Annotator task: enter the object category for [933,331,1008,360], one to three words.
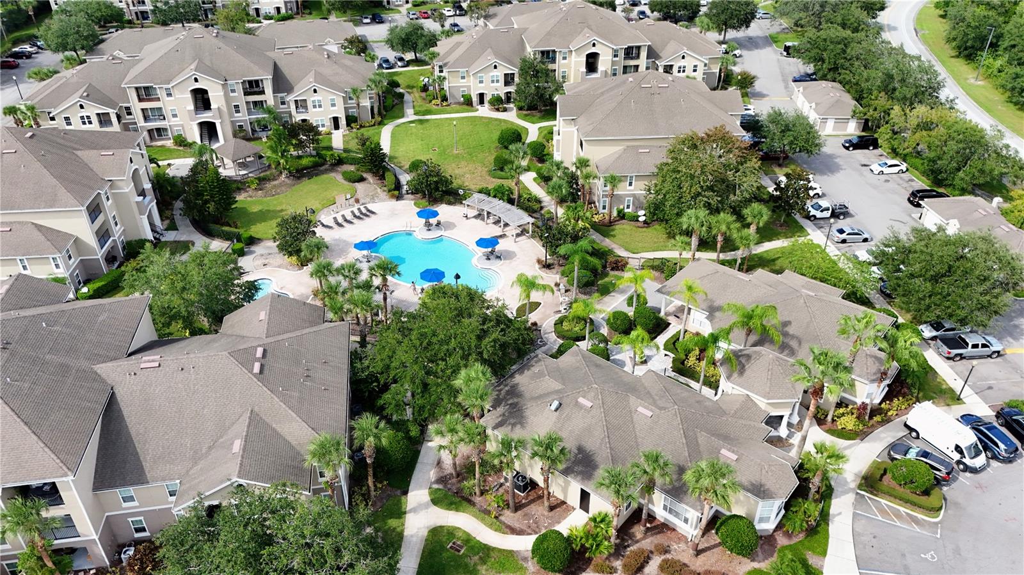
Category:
truck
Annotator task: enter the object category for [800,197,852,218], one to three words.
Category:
truck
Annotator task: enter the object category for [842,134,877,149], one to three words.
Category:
car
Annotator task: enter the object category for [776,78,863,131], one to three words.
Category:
building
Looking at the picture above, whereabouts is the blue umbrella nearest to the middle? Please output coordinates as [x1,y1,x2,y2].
[474,238,501,251]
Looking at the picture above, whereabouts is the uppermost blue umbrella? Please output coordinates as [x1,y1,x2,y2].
[414,210,440,224]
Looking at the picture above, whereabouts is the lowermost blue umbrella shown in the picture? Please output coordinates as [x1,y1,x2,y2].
[417,269,449,292]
